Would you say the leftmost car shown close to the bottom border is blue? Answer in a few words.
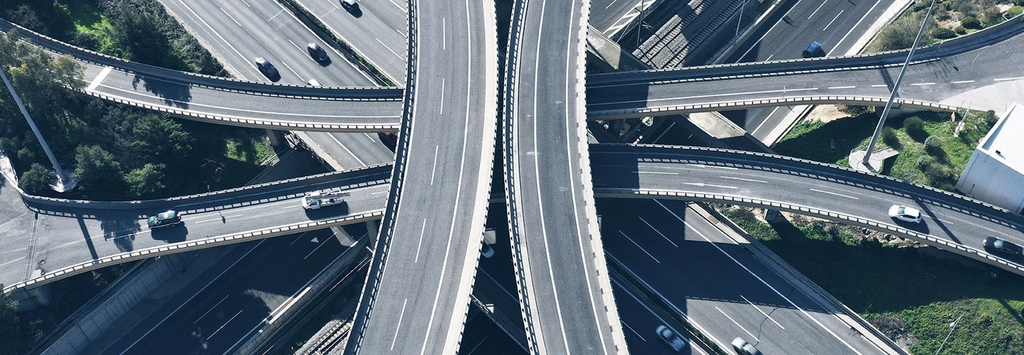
Yes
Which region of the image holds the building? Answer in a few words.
right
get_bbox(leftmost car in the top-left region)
[254,55,279,77]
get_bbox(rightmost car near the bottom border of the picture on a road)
[727,332,764,355]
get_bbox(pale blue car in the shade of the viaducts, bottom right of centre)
[651,320,687,352]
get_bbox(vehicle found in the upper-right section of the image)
[801,39,822,58]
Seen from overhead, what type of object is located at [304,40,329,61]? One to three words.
car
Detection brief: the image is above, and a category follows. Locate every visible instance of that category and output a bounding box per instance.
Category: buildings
[954,94,1024,218]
